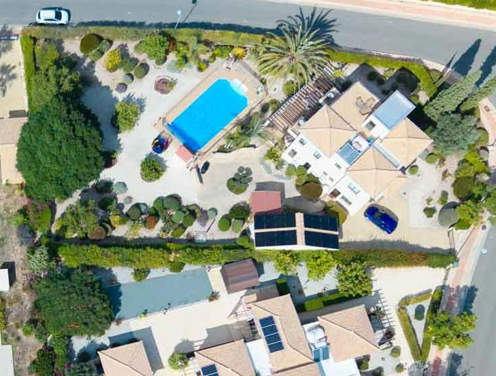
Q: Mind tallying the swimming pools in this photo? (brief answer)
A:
one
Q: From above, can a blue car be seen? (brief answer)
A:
Yes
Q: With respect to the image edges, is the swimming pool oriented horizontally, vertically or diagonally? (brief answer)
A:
diagonally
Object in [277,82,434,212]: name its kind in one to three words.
house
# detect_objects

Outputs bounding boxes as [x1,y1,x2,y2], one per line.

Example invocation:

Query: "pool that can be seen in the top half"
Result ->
[164,78,249,154]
